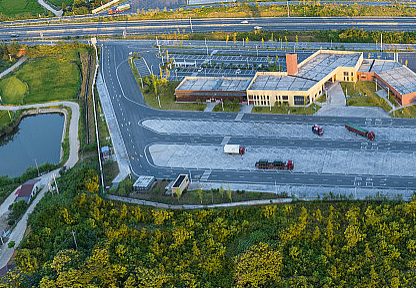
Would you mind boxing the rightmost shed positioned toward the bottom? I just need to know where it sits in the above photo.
[159,174,191,193]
